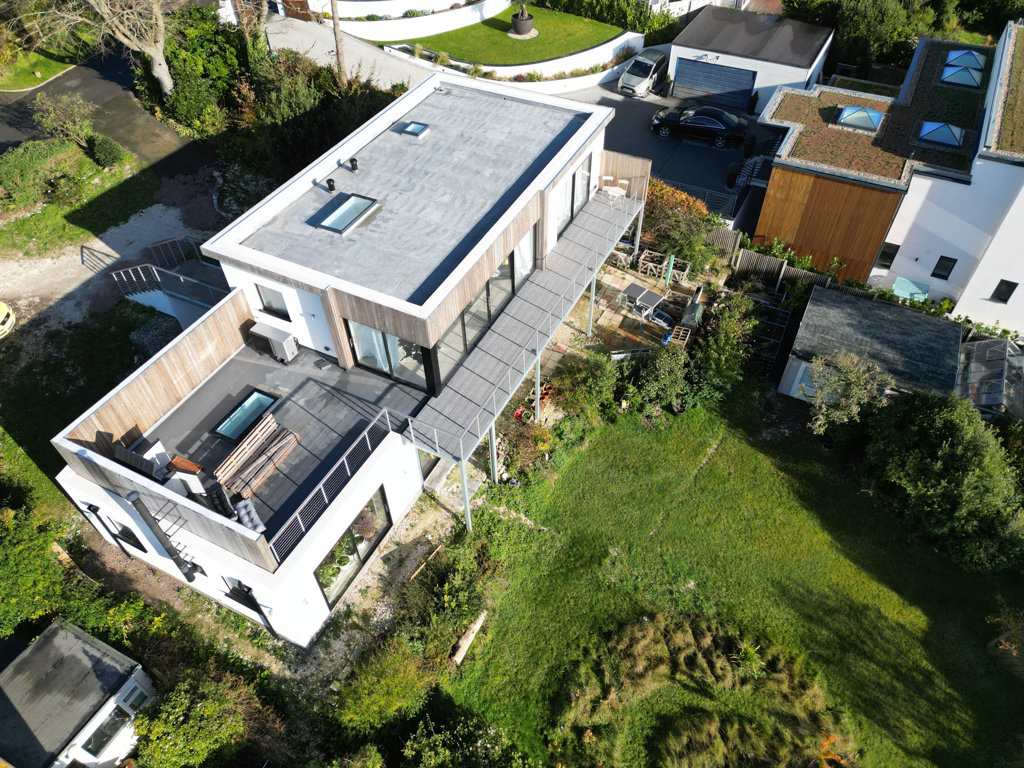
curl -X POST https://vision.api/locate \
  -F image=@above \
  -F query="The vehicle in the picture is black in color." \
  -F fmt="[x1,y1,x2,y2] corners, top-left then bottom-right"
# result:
[652,103,758,147]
